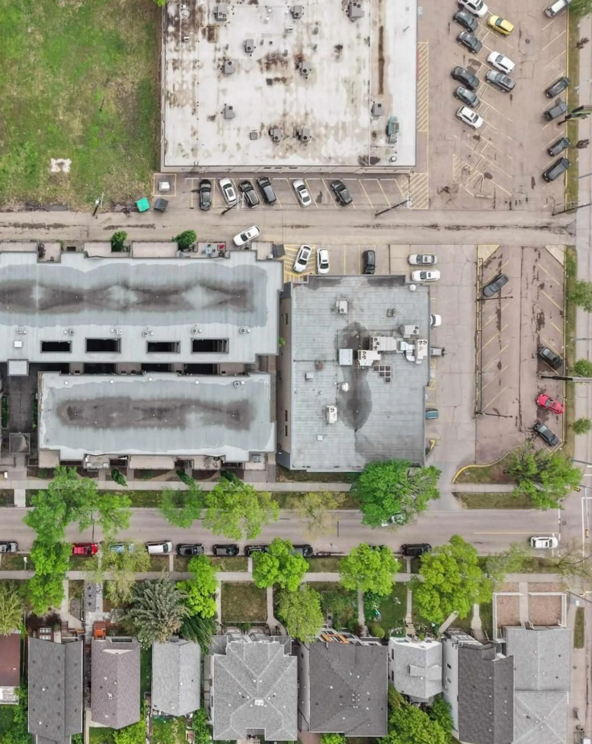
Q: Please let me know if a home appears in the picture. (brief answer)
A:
Yes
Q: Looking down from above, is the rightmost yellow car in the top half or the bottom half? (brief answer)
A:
top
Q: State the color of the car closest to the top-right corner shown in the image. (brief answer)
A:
white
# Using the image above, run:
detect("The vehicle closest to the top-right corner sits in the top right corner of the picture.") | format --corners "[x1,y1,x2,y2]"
[542,0,570,20]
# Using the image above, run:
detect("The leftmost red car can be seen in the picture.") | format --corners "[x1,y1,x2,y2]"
[72,542,97,556]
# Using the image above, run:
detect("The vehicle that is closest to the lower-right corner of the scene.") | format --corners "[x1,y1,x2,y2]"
[527,535,558,549]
